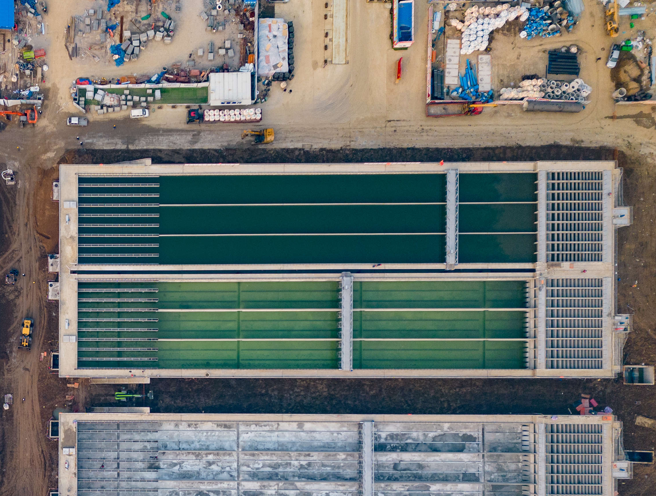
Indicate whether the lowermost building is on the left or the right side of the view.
left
